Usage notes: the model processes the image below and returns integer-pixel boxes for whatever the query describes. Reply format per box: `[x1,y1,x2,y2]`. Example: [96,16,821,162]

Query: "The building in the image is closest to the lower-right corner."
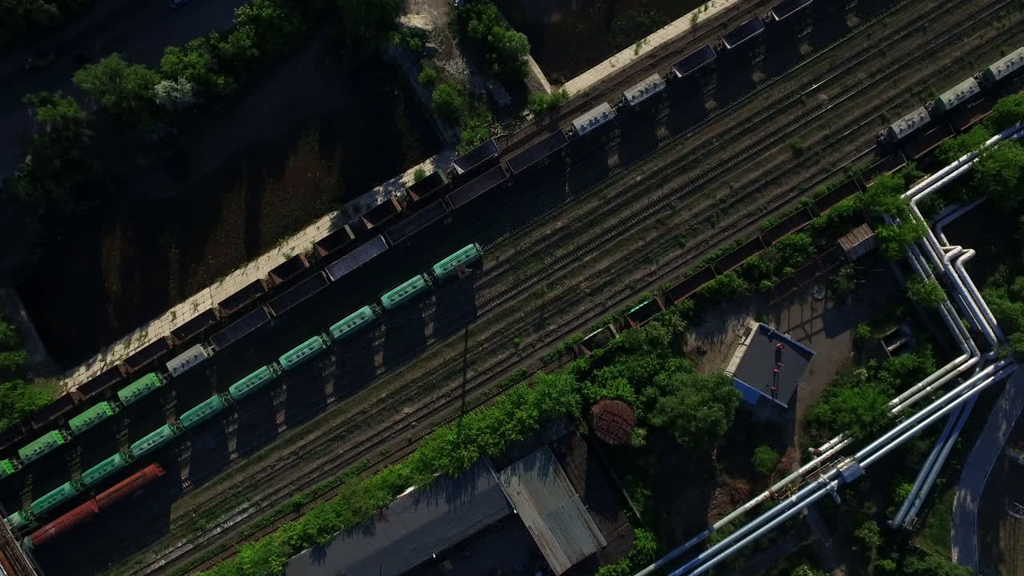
[724,322,816,408]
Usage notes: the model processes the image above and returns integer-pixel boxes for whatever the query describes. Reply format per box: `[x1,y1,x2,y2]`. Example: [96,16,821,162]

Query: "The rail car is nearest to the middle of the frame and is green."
[432,241,485,280]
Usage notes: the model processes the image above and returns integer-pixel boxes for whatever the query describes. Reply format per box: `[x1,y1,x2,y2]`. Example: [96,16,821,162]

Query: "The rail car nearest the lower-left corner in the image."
[0,503,41,537]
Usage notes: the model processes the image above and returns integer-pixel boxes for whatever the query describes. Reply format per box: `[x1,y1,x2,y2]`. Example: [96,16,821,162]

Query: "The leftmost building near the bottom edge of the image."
[282,454,514,576]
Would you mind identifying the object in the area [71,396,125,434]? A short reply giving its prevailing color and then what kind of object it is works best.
green rail car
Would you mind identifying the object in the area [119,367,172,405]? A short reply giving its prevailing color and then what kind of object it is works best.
green rail car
